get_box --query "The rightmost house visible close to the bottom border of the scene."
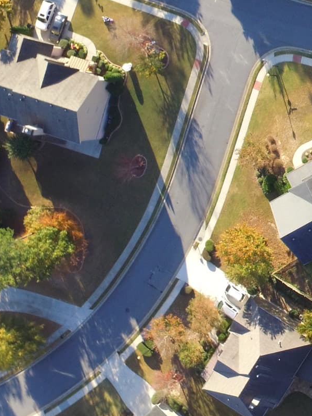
[202,291,312,416]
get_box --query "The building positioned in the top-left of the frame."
[0,35,113,140]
